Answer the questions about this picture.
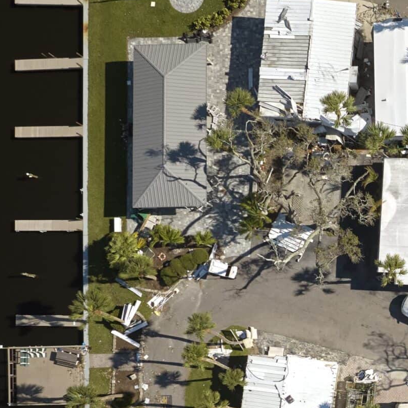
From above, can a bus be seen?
No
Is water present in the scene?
Yes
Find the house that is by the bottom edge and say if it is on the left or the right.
right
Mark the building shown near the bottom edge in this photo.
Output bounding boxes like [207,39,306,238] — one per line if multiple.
[241,355,343,408]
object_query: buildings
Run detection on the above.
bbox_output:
[257,0,360,127]
[377,158,408,286]
[132,43,208,210]
[373,20,408,134]
[241,355,343,408]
